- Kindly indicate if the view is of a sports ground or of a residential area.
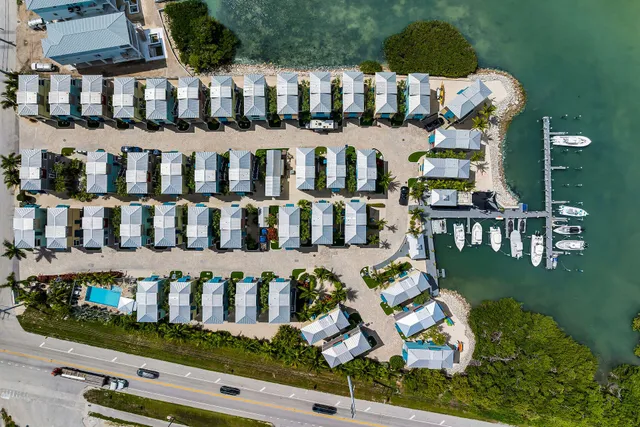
residential area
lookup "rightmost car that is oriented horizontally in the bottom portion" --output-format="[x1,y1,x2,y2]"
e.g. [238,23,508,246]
[312,401,337,415]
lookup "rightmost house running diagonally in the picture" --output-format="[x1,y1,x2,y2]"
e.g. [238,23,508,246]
[440,79,491,125]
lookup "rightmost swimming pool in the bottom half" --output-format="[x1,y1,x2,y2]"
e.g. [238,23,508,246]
[73,276,137,315]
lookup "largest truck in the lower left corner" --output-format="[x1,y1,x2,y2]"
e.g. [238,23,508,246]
[56,366,131,394]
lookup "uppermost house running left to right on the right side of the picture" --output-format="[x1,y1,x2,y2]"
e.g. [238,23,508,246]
[426,129,481,151]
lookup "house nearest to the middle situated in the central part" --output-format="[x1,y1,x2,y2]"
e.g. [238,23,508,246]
[311,201,334,246]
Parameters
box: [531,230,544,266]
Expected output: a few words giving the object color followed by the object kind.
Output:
white boat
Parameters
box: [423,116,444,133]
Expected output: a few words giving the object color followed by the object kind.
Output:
black vehicle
